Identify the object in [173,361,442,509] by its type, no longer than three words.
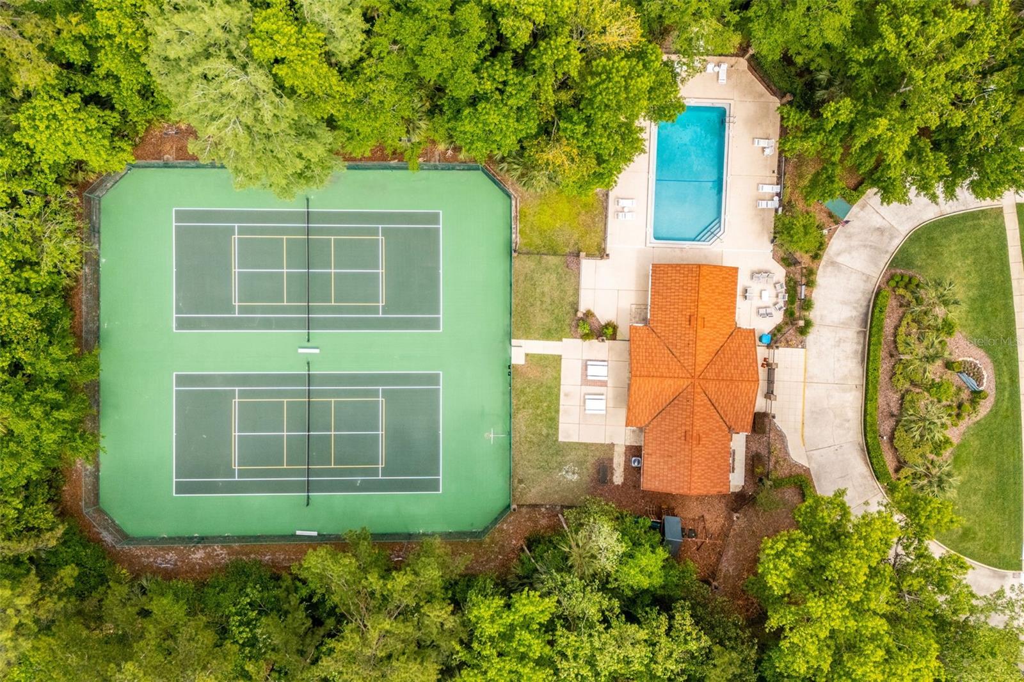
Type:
tennis court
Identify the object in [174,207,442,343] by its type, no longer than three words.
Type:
tennis court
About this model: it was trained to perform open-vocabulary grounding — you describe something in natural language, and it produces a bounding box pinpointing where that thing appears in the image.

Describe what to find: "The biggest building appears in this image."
[626,263,760,496]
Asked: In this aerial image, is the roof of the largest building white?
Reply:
No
